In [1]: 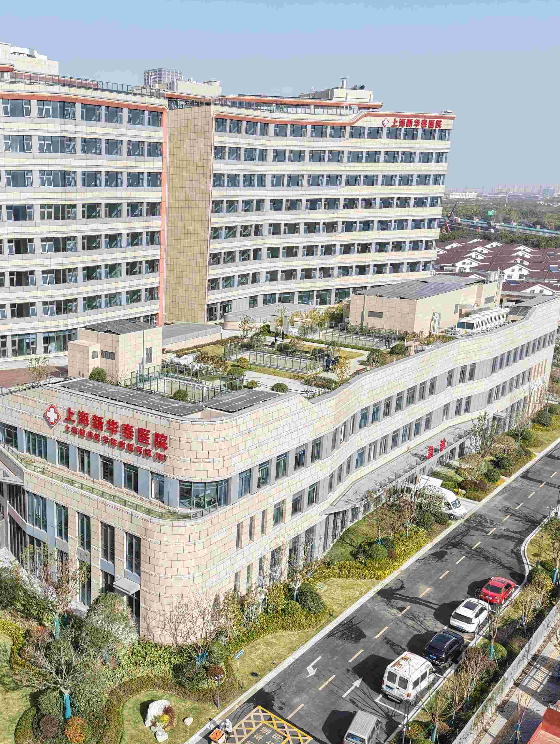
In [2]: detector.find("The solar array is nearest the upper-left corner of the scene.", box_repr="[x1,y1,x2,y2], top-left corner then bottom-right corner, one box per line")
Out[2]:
[78,309,164,338]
